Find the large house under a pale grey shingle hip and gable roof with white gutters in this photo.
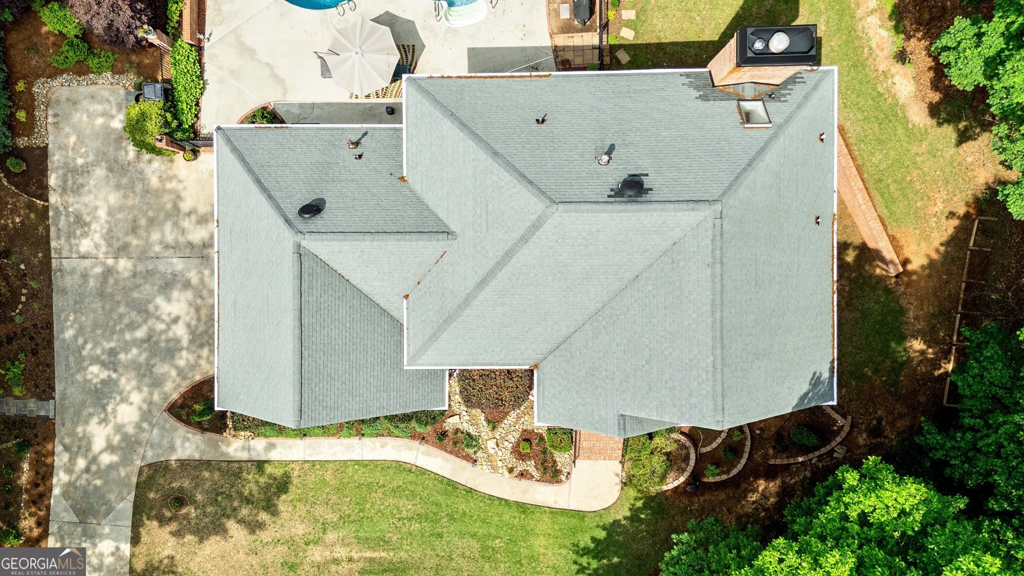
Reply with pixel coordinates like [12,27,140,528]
[213,25,839,438]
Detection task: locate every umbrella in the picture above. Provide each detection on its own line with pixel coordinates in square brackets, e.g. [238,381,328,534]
[310,17,400,97]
